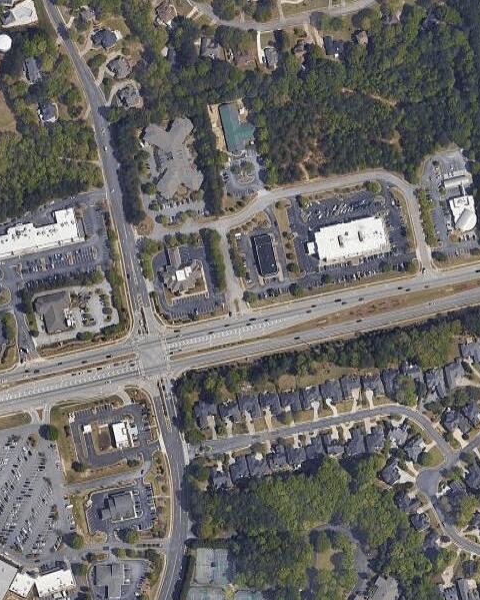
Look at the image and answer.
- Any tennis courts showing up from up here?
Yes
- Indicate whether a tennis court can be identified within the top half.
No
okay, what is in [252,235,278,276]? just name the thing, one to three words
building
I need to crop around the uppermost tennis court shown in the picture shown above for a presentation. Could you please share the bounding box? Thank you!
[194,547,229,584]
